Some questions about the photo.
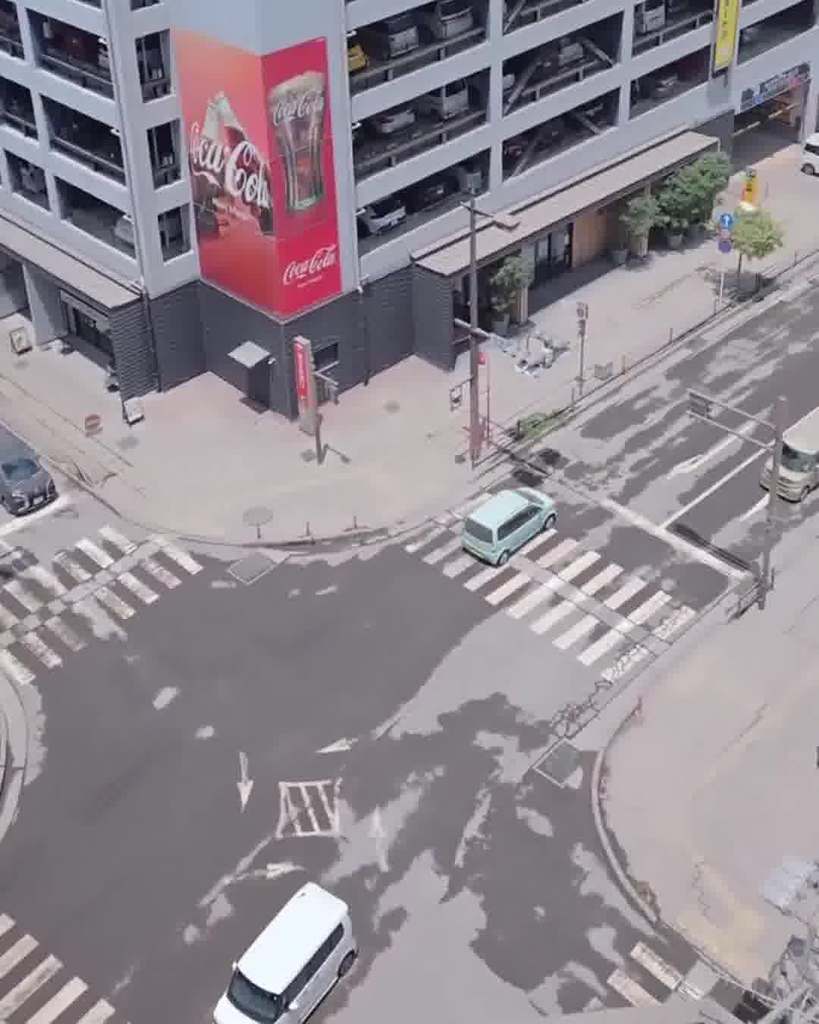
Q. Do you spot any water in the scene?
No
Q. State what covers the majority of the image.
paved ground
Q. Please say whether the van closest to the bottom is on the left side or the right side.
left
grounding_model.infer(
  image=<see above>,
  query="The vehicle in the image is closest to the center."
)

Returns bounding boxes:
[462,484,557,564]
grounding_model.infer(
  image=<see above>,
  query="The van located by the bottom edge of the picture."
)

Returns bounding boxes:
[218,889,353,1024]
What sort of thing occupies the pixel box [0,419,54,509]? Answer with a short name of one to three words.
car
